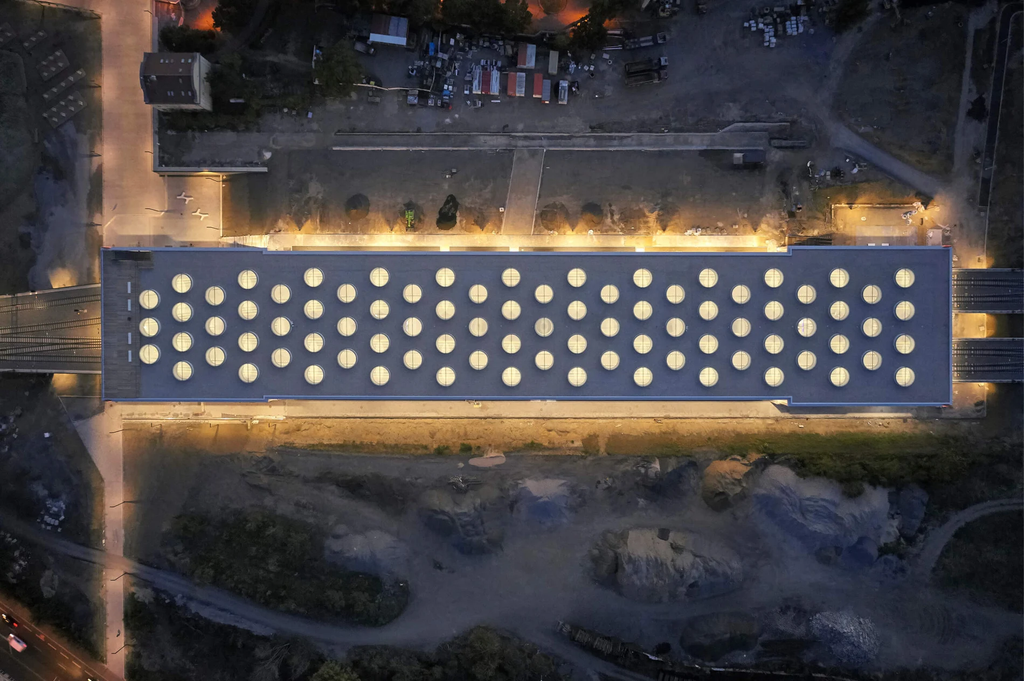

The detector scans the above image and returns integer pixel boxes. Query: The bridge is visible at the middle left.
[0,283,102,374]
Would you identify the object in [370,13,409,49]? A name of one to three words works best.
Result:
shed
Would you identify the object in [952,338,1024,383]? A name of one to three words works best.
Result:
bridge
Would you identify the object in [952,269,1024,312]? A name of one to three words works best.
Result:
bridge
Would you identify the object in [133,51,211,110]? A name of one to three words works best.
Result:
house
